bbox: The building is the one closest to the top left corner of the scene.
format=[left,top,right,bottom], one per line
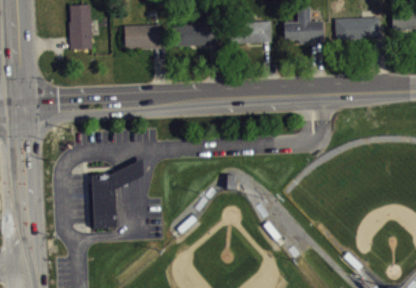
[70,5,92,52]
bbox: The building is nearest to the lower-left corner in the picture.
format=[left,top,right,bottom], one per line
[92,158,144,233]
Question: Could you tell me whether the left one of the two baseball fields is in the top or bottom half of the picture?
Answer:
bottom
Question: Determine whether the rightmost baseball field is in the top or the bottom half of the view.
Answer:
bottom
